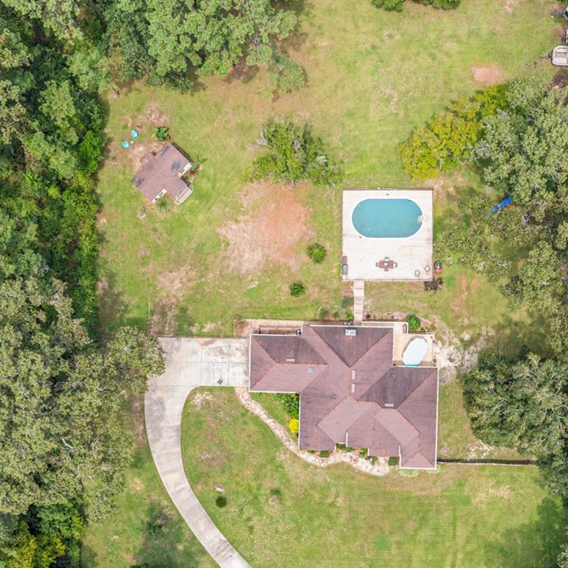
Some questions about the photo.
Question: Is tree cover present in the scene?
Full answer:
Yes, the picture does contain tree cover.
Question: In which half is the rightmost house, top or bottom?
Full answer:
It is in the bottom half that the rightmost house appears.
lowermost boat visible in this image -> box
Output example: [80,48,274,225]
[491,195,512,213]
